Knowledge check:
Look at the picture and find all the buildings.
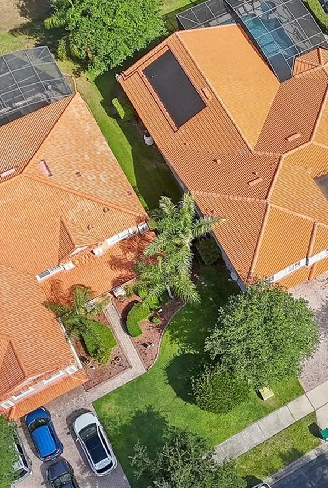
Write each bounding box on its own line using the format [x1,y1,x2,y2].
[116,21,328,292]
[0,91,171,422]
